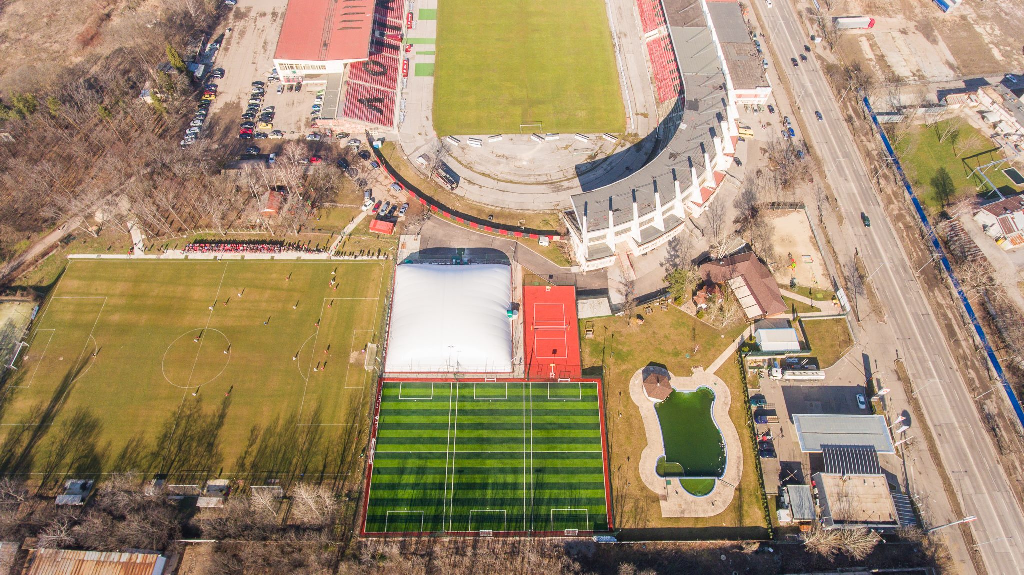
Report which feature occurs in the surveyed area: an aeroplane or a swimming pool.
swimming pool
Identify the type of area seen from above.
sports ground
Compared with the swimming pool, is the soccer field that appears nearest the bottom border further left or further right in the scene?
to the left of it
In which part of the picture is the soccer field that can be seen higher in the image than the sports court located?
top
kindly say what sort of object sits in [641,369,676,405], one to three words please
building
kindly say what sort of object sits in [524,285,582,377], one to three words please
sports court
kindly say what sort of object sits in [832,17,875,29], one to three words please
vehicle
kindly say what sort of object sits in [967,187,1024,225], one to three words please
building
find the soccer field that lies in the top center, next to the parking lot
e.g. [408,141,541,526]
[433,0,625,135]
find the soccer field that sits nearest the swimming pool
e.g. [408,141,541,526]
[360,378,616,538]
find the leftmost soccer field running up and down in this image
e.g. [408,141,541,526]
[0,301,37,383]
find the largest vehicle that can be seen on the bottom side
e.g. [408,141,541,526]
[772,366,828,380]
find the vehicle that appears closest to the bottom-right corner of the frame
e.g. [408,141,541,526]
[854,393,868,409]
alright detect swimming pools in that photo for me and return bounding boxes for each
[629,366,743,519]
